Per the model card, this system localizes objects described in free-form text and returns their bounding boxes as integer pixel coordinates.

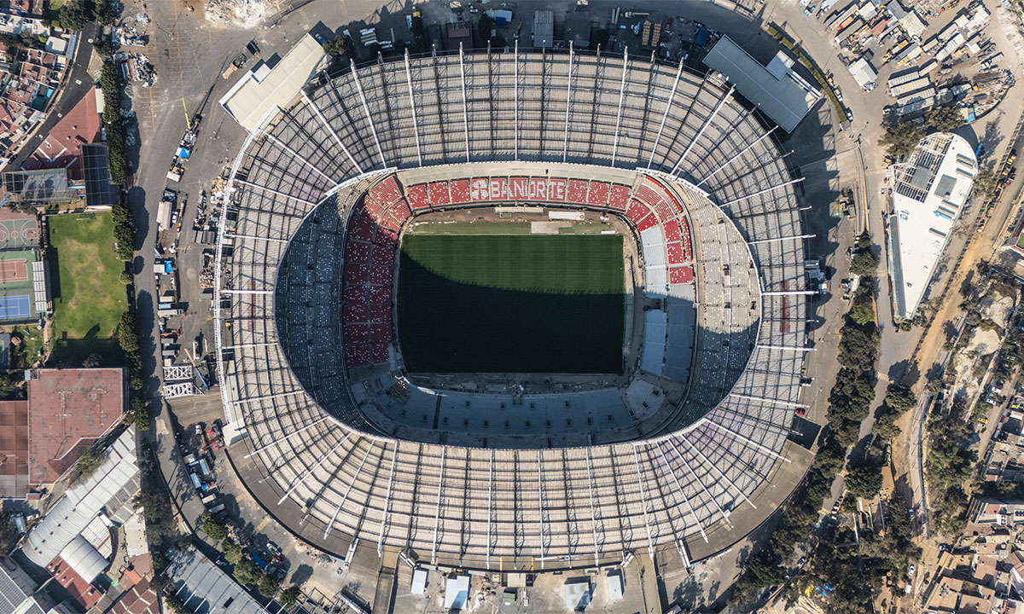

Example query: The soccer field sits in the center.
[399,222,625,375]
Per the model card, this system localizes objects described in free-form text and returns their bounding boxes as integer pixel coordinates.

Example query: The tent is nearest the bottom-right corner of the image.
[606,573,622,600]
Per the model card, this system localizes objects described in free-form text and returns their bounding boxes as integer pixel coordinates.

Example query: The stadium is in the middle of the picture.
[218,38,819,571]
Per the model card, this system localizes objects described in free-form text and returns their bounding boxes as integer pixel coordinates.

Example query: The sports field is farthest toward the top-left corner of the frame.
[47,212,130,367]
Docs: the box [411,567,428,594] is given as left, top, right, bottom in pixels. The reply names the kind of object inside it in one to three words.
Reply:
tent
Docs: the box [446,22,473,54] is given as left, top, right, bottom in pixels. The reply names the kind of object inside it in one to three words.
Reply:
shed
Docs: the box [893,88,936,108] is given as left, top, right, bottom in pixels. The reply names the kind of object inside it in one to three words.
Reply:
building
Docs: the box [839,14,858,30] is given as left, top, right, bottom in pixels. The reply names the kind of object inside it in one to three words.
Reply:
vehicle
